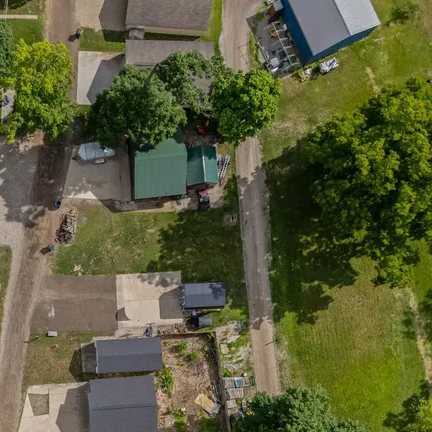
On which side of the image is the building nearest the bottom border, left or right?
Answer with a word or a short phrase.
left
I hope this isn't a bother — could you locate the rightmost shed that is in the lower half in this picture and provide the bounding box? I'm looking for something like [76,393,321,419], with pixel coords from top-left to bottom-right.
[181,282,226,310]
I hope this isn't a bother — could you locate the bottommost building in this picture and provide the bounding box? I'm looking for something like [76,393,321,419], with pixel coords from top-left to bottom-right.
[89,376,157,432]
